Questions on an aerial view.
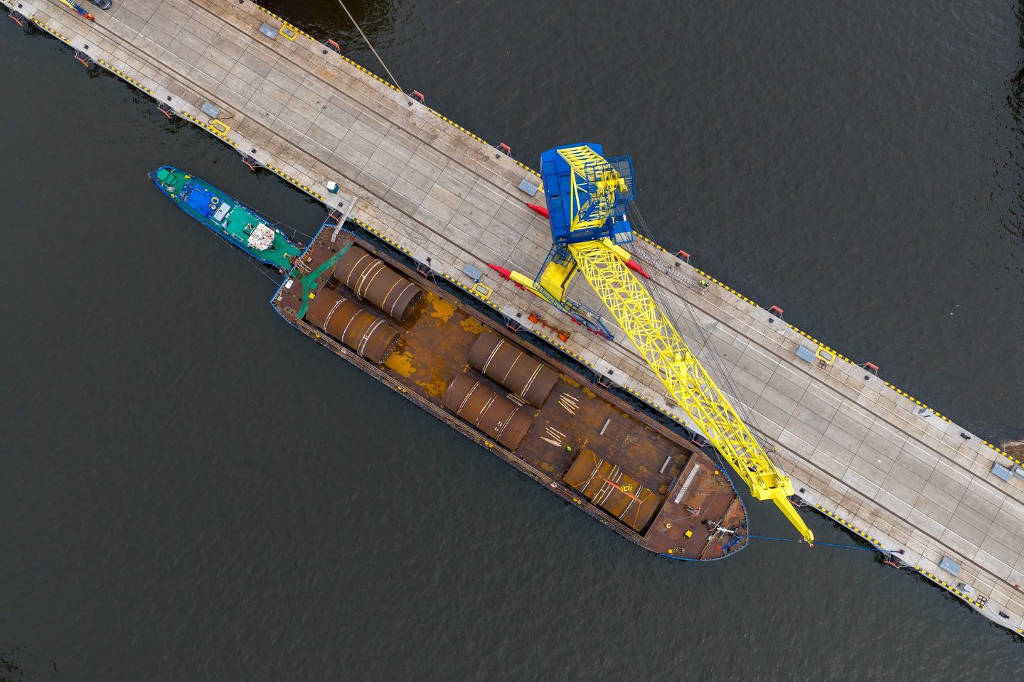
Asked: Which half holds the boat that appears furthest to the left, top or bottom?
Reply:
top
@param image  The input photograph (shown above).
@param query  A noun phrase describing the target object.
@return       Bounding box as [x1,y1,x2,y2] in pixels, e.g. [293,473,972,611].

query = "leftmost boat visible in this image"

[146,165,302,275]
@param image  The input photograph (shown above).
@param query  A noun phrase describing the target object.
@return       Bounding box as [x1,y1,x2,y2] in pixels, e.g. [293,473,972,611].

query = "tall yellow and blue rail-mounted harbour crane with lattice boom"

[488,143,817,558]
